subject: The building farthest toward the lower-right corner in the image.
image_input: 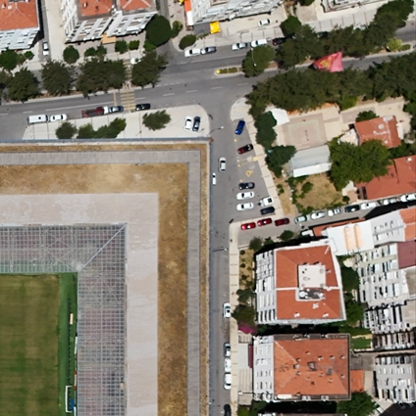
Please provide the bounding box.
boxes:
[375,356,416,406]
